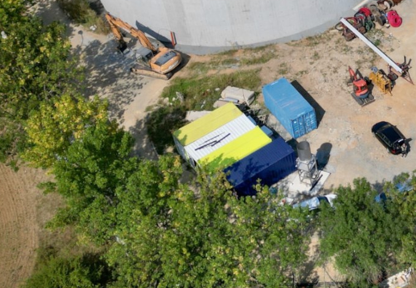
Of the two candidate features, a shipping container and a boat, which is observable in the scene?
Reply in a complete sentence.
I can see a shipping container in this picture.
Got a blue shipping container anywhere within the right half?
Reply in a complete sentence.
Yes, I can see a blue shipping container within the right half.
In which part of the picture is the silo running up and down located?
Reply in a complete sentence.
The silo running up and down appears toward the right of the photo.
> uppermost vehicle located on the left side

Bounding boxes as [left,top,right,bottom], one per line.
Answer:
[97,28,183,75]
